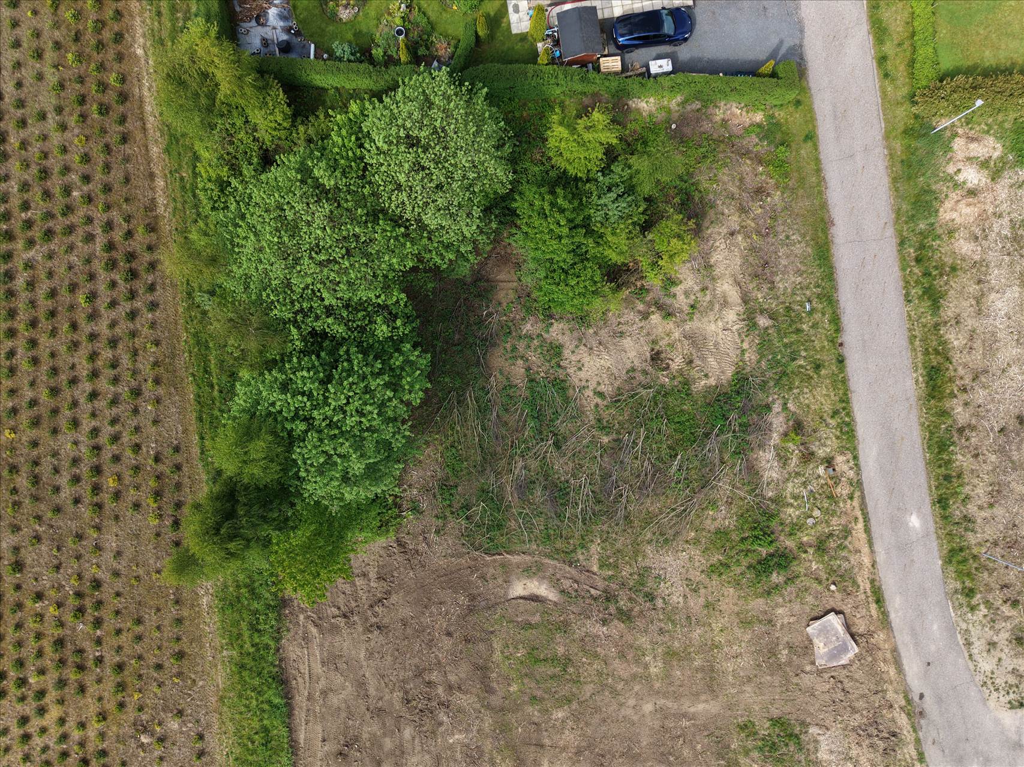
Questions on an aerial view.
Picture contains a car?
Yes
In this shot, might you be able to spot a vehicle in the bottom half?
No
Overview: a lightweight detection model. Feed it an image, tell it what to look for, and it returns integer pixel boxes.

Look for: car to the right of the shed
[611,4,693,53]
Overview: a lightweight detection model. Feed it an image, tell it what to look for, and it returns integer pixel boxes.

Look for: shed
[556,4,603,72]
